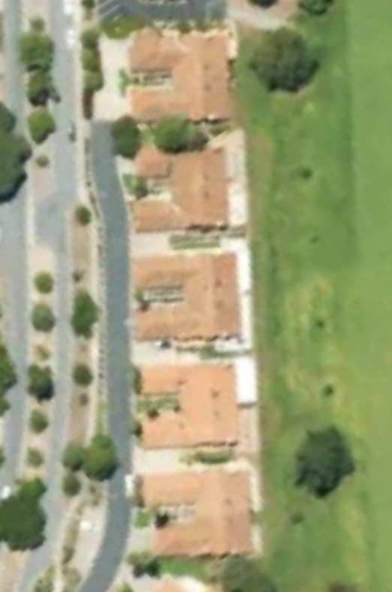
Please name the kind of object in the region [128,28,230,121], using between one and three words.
house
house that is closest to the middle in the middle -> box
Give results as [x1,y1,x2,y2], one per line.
[130,237,255,348]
